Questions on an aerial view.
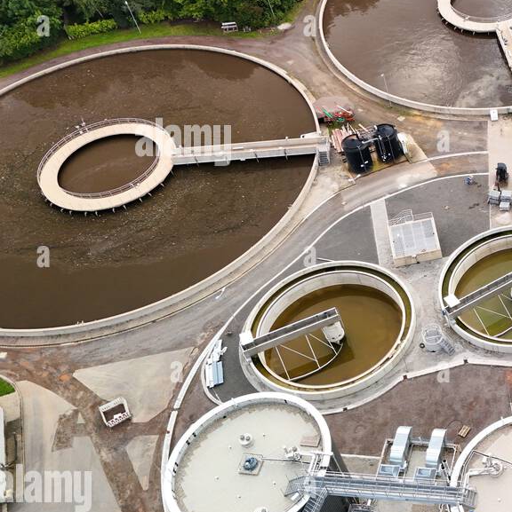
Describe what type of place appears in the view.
industrial area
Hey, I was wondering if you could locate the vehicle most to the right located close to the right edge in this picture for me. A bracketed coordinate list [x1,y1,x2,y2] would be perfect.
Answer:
[494,162,506,193]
